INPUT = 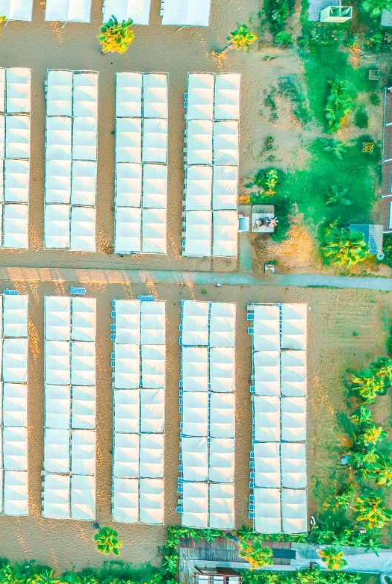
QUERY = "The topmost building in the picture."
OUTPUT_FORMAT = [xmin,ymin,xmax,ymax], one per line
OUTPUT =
[318,6,351,23]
